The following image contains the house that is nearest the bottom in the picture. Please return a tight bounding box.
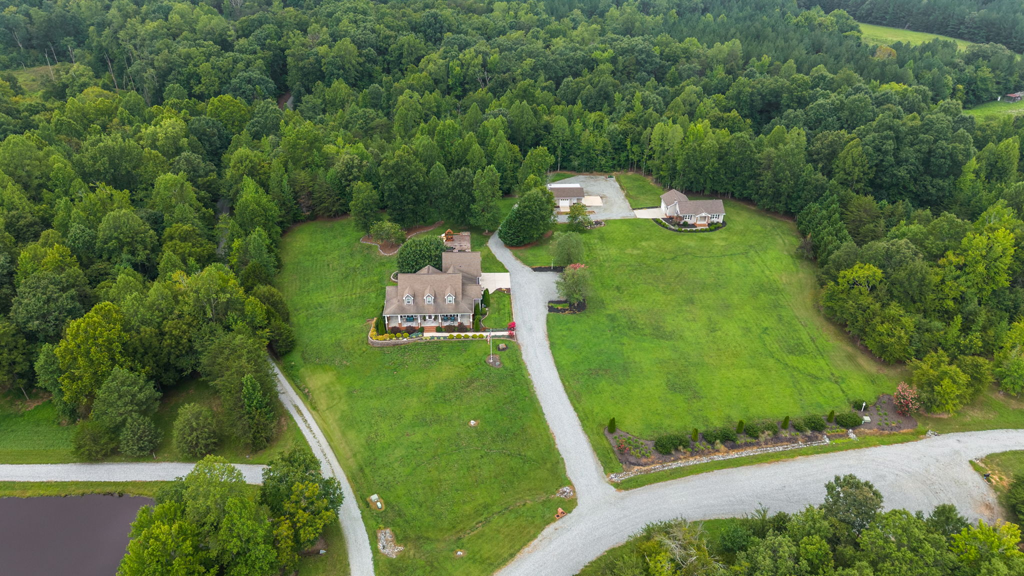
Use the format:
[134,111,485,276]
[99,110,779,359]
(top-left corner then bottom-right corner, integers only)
[383,251,481,333]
